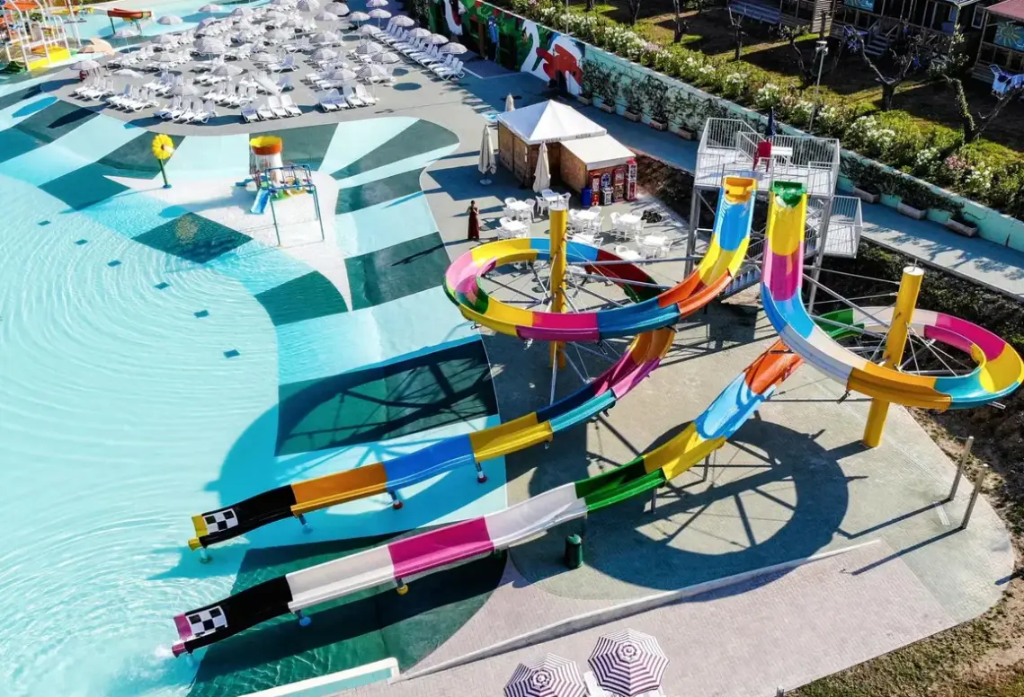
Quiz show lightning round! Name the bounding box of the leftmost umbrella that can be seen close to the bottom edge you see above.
[504,658,587,697]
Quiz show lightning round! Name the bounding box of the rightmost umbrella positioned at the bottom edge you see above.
[584,643,668,697]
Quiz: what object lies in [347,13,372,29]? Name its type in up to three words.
umbrella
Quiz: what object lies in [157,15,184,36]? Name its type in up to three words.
umbrella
